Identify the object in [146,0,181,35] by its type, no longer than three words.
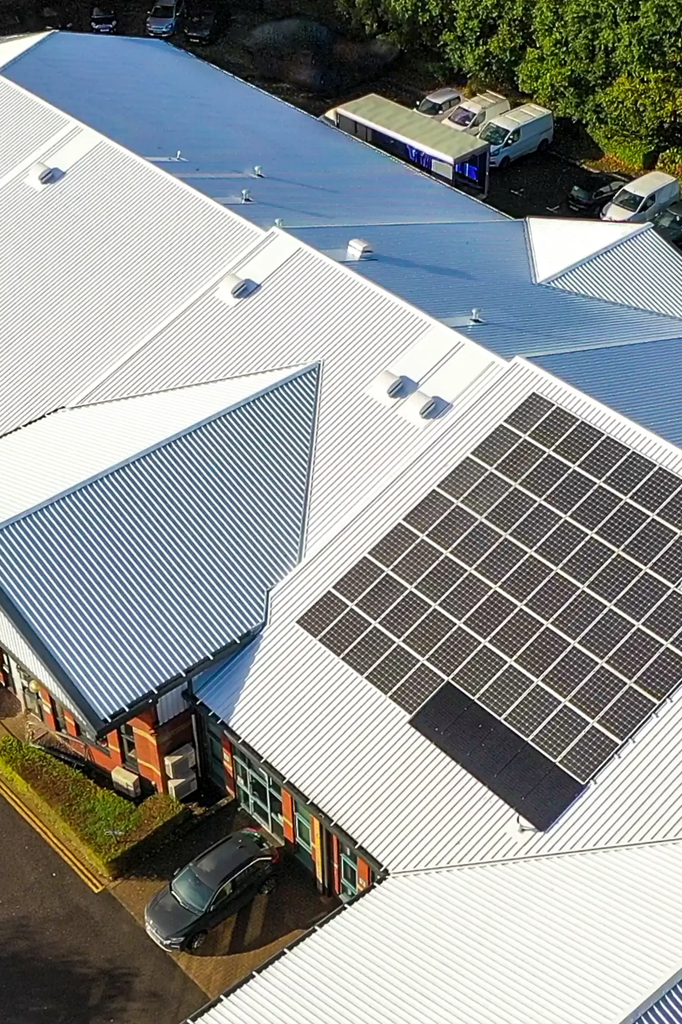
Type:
car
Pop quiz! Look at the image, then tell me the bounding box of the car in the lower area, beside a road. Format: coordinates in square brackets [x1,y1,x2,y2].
[144,826,283,950]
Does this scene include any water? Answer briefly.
No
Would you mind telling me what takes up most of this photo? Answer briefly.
buildings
